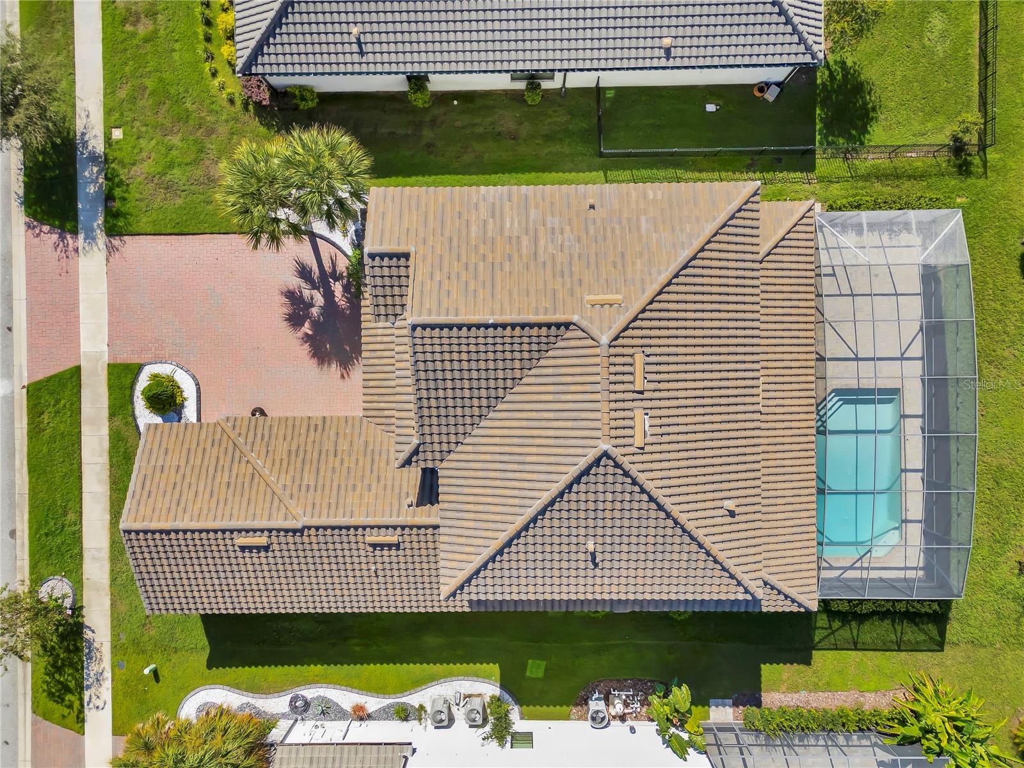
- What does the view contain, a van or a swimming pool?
swimming pool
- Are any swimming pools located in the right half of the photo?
Yes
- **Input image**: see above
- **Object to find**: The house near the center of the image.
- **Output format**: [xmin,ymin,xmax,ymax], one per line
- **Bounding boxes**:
[119,177,822,618]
